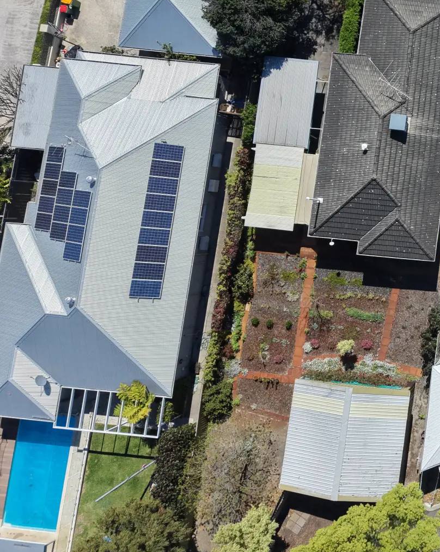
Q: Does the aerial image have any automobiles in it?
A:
No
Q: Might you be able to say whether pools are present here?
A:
Yes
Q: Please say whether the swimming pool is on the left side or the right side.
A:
left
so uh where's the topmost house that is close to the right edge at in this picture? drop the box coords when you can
[302,0,440,262]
